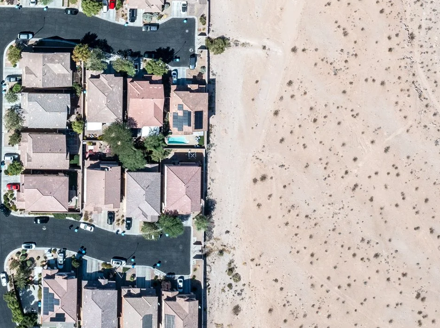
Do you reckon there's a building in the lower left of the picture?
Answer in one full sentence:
Yes, looking in the lower left of the picture, one can make out a building.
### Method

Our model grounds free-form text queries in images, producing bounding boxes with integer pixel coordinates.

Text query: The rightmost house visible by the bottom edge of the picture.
[159,289,199,328]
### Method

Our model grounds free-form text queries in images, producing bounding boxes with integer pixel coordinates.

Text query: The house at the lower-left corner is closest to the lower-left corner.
[41,268,77,323]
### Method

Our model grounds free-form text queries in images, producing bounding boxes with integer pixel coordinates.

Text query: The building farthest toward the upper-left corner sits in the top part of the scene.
[18,52,72,89]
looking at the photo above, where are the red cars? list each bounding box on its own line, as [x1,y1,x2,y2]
[6,183,20,190]
[109,0,115,10]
